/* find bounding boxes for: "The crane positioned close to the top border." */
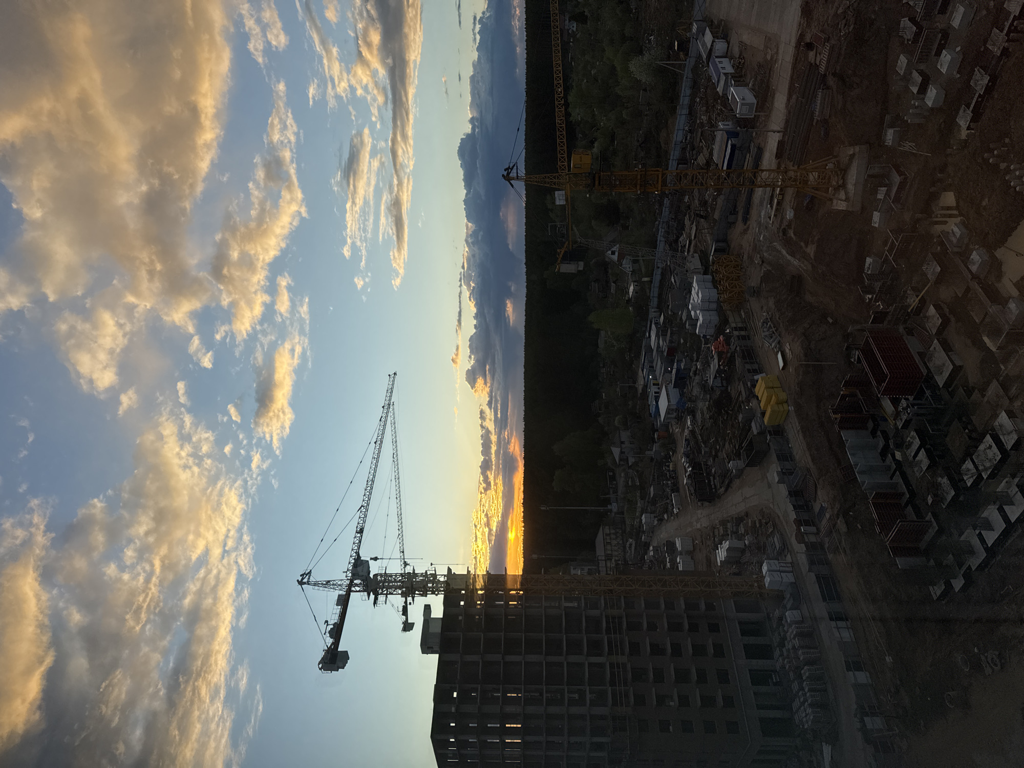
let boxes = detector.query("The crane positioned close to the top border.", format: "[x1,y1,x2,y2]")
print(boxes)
[501,0,858,276]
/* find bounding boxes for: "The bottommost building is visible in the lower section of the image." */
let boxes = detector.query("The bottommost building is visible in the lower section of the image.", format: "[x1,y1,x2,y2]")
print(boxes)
[419,567,787,768]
